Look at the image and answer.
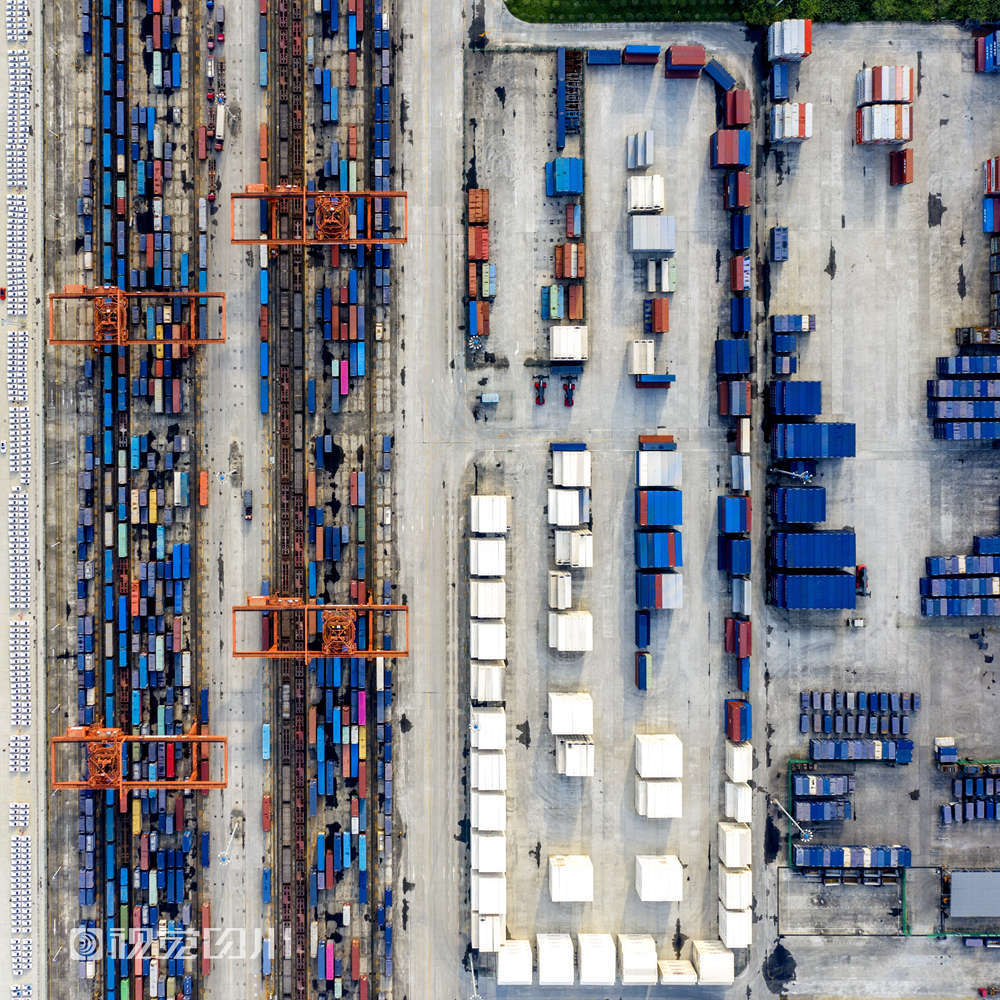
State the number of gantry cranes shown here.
four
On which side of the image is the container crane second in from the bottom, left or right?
left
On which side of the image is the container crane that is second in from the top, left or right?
left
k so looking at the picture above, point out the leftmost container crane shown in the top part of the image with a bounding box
[49,284,227,356]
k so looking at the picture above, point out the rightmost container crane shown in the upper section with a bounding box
[231,184,407,259]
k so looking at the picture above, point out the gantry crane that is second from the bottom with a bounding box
[232,589,409,665]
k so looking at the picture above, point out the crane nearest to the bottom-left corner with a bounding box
[51,716,229,796]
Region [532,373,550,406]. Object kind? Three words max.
work vehicle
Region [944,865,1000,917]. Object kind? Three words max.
building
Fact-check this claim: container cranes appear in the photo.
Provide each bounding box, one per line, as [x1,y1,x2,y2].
[51,716,229,796]
[231,184,407,259]
[232,589,409,665]
[49,284,227,356]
